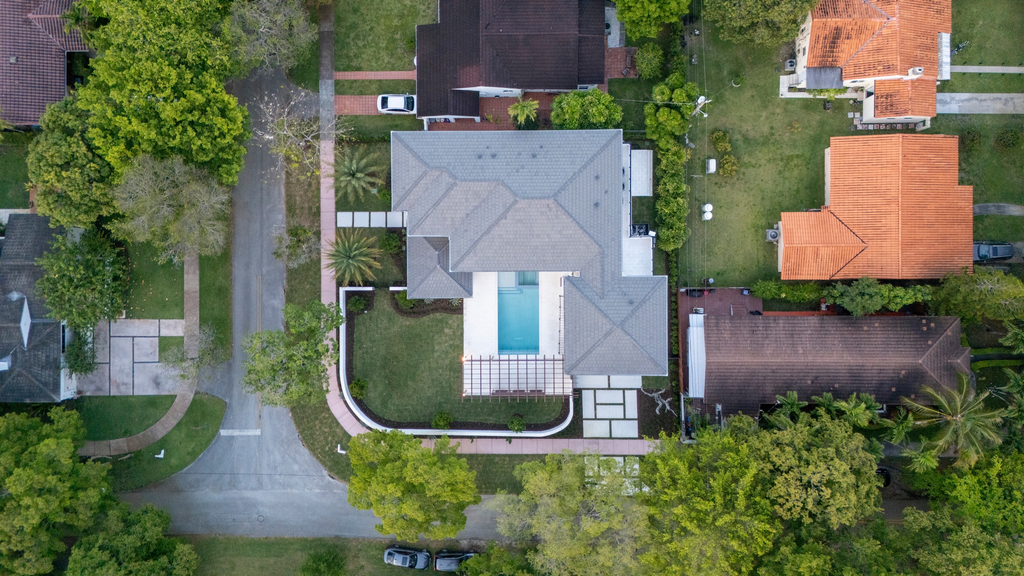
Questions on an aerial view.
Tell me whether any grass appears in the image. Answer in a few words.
Yes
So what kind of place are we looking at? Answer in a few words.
residential area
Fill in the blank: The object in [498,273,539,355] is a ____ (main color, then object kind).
blue swimming pool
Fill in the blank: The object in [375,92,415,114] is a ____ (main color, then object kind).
white car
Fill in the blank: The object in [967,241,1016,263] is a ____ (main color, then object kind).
blue car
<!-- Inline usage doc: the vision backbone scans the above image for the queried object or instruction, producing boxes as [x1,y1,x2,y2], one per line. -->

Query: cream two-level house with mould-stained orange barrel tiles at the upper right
[786,0,961,132]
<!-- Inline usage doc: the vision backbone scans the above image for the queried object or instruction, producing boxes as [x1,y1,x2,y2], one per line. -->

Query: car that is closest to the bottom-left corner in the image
[383,545,428,571]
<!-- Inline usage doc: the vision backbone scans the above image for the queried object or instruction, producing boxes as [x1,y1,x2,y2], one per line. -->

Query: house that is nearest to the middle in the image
[390,128,668,377]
